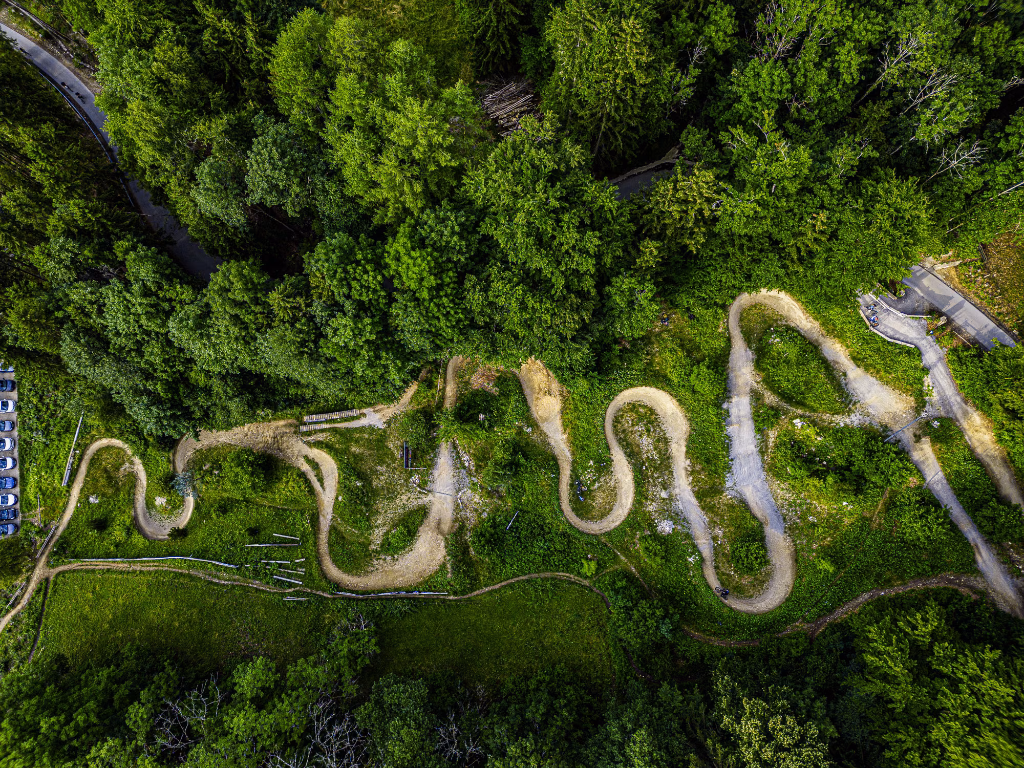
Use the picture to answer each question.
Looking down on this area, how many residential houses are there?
none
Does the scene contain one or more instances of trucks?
No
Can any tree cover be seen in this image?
Yes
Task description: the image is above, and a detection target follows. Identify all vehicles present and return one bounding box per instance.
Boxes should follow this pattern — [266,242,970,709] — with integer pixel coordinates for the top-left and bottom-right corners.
[0,524,17,538]
[0,476,15,492]
[0,419,13,432]
[0,508,17,523]
[0,399,14,414]
[0,493,17,508]
[0,378,15,393]
[0,457,14,472]
[0,360,14,375]
[0,438,13,451]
